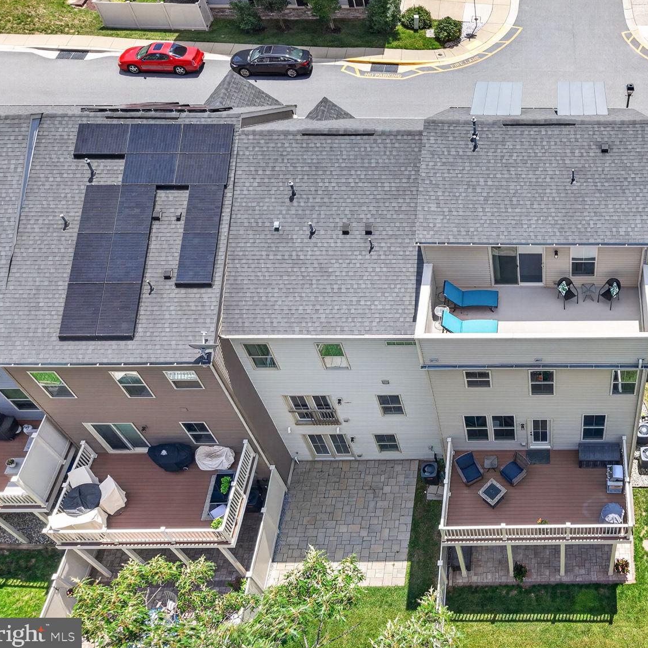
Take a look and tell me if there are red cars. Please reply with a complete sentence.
Yes, looking at the shot, I can spot a red car.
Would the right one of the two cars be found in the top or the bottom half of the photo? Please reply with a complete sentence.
The right one of the two cars sits in the top half of the picture.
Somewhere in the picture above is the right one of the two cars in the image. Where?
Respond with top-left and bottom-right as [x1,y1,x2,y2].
[233,39,321,77]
